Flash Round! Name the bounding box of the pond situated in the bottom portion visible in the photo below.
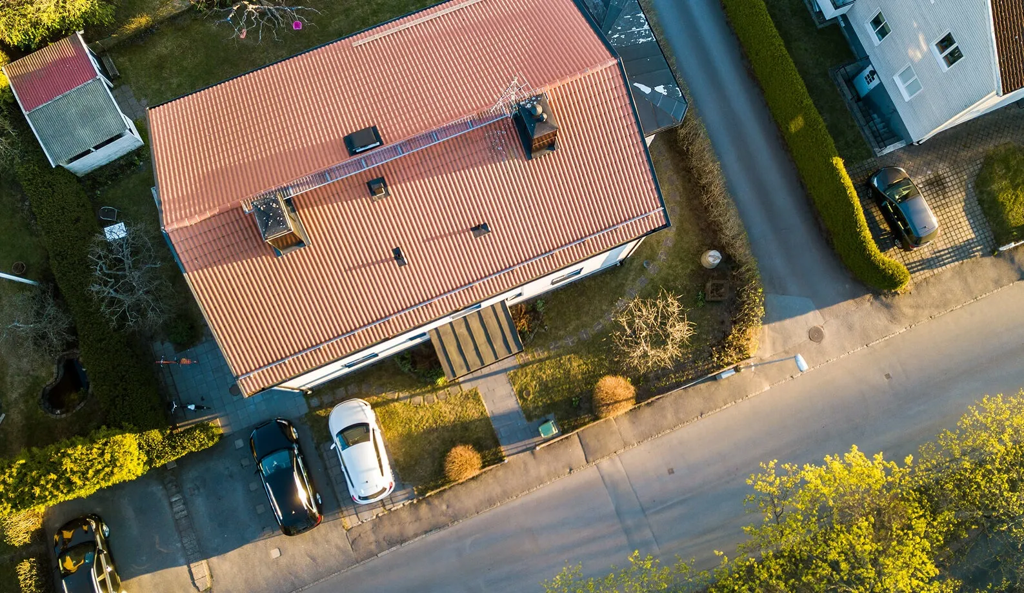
[37,352,93,420]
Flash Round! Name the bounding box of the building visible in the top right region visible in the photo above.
[812,0,1024,148]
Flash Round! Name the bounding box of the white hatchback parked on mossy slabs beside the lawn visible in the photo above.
[326,396,400,508]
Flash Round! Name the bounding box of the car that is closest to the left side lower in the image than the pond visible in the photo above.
[47,512,134,593]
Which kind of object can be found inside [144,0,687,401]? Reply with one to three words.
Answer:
house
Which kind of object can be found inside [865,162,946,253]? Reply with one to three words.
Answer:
car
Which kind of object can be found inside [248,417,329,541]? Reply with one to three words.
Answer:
car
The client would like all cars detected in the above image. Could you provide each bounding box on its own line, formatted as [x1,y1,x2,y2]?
[248,417,329,541]
[47,512,134,593]
[326,396,400,508]
[865,162,946,253]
